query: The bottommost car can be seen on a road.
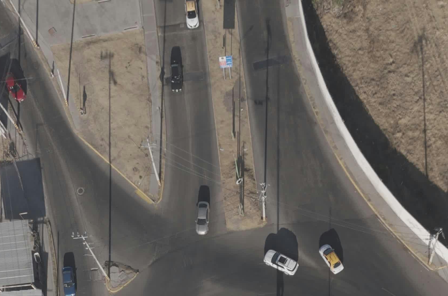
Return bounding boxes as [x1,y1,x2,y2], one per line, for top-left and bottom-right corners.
[61,266,78,296]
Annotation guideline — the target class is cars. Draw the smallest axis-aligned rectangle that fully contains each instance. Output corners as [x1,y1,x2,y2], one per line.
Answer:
[5,70,26,104]
[169,60,184,94]
[194,200,210,236]
[61,266,78,296]
[321,244,344,275]
[263,251,299,276]
[184,0,200,32]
